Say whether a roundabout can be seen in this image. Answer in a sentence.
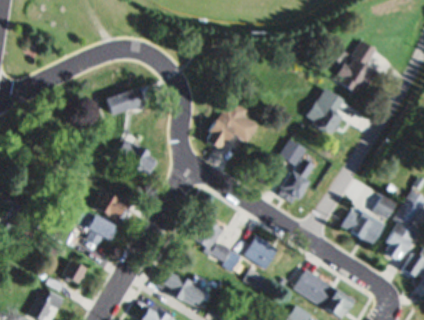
No, no roundabout can be seen from above.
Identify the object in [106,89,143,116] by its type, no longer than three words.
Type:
house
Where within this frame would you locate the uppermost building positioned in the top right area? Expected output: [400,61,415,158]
[335,40,380,90]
